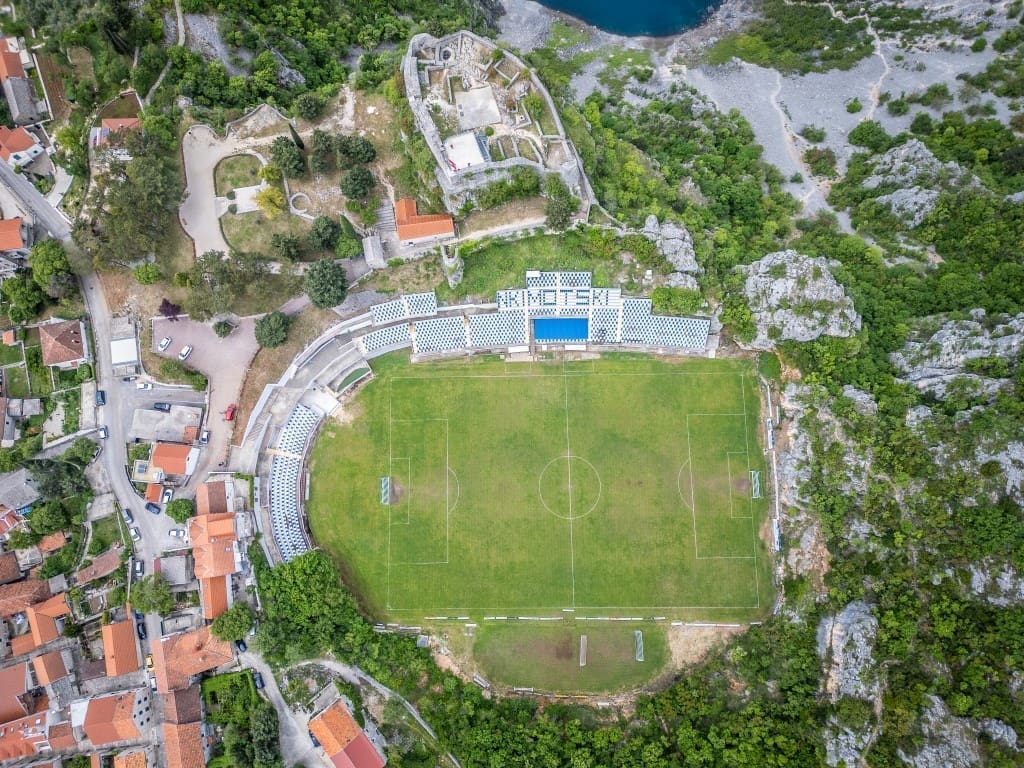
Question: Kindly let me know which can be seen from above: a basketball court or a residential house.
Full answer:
The image shows a residential house.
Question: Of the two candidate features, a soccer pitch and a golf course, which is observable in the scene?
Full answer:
The one in the frame is a soccer pitch.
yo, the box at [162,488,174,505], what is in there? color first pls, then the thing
white vehicle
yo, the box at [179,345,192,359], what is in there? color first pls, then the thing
white vehicle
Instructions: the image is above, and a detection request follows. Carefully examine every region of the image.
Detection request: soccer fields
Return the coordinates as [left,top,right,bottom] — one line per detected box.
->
[306,355,779,627]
